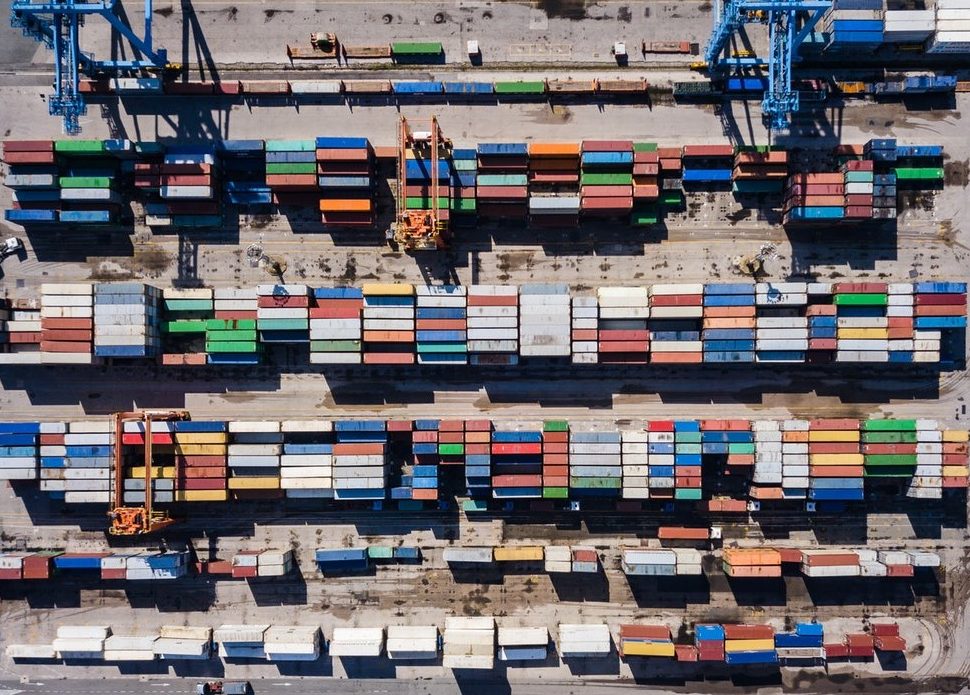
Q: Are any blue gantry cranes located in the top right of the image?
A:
Yes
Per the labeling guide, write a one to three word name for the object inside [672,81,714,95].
rail car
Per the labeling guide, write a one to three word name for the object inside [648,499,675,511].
vehicle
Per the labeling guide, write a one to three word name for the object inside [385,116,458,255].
container crane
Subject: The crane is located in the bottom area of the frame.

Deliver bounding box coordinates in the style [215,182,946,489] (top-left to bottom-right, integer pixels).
[101,409,190,544]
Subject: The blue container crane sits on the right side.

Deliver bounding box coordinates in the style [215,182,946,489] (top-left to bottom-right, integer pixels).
[690,0,835,138]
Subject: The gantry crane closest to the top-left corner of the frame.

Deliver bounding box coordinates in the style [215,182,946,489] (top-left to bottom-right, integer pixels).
[0,0,180,138]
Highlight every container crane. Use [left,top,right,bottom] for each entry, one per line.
[101,409,190,544]
[0,0,180,138]
[385,116,458,255]
[690,0,835,138]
